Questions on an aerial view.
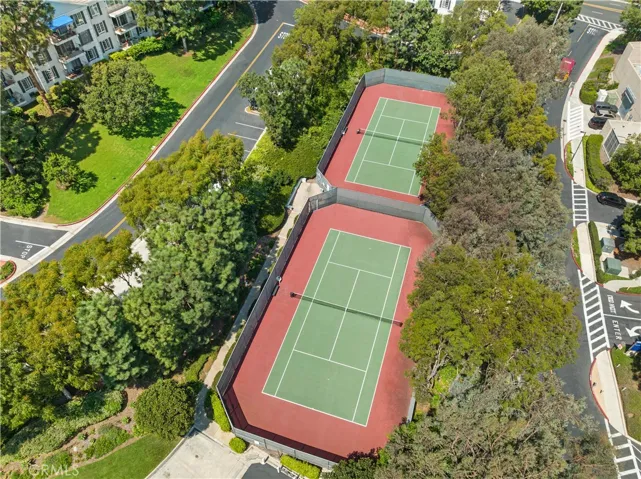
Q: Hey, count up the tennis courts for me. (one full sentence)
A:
My tally gives 2 tennis courts in this view.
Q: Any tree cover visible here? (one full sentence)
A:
Yes, the picture does contain tree cover.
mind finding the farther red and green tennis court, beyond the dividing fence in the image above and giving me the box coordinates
[327,83,452,208]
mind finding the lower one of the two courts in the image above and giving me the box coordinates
[223,202,437,471]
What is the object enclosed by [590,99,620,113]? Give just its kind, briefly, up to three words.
car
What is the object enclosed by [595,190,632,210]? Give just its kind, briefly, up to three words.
car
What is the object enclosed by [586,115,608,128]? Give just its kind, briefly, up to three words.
vehicle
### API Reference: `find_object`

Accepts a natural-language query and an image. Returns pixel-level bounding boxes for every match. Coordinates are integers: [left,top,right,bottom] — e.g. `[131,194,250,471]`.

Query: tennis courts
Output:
[327,83,452,208]
[223,202,437,471]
